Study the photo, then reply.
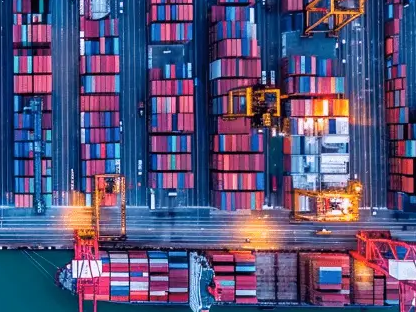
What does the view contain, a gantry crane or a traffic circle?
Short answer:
gantry crane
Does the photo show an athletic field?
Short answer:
No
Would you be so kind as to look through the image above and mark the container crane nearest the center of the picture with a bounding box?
[232,83,281,122]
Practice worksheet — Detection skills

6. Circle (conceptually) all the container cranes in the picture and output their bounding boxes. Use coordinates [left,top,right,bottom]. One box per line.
[292,185,363,223]
[349,227,416,312]
[64,227,107,312]
[88,171,126,240]
[232,83,281,122]
[304,0,365,38]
